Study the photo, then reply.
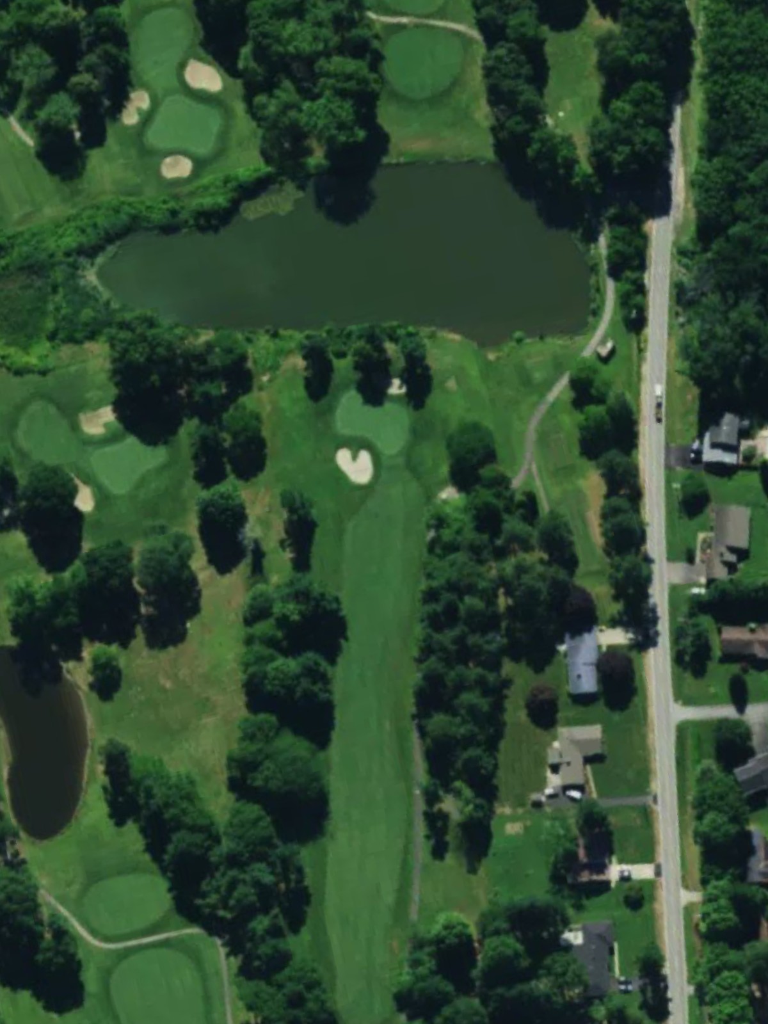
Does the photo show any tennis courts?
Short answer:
No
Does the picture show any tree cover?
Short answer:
Yes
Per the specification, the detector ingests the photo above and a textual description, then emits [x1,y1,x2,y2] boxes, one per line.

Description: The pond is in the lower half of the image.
[0,640,87,839]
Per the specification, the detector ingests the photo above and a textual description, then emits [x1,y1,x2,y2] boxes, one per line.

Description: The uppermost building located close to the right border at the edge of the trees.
[702,413,739,464]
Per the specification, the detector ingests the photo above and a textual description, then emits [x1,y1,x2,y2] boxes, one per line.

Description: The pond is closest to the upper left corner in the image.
[94,161,590,348]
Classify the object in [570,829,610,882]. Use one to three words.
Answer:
house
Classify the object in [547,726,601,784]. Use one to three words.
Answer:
house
